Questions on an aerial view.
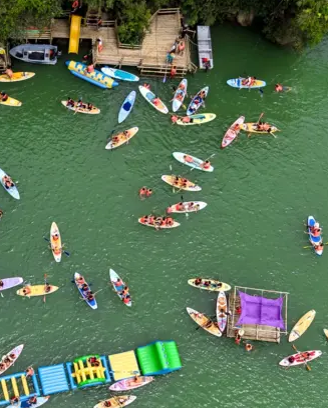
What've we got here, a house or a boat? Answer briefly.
boat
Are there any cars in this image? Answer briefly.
No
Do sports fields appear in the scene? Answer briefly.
No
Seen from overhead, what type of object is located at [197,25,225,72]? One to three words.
boat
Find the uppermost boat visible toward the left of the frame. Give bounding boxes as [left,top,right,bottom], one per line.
[10,44,64,63]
